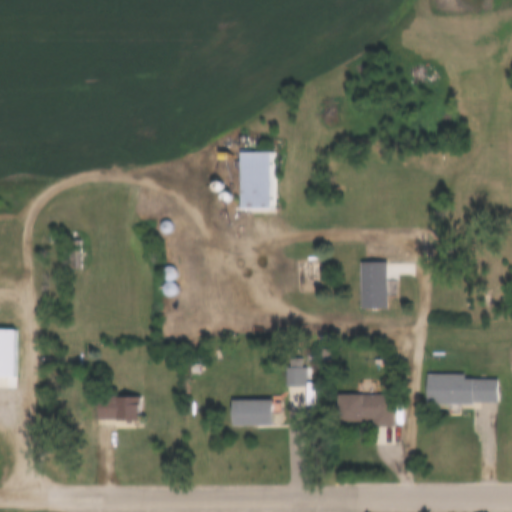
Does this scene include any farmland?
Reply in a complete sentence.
Yes, there's farmland in this view.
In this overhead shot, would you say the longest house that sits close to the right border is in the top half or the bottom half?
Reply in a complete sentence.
The longest house that sits close to the right border is in the bottom half of the image.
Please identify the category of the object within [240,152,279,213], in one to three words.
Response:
barn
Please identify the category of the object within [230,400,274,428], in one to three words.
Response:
house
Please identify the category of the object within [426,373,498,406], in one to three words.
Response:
house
